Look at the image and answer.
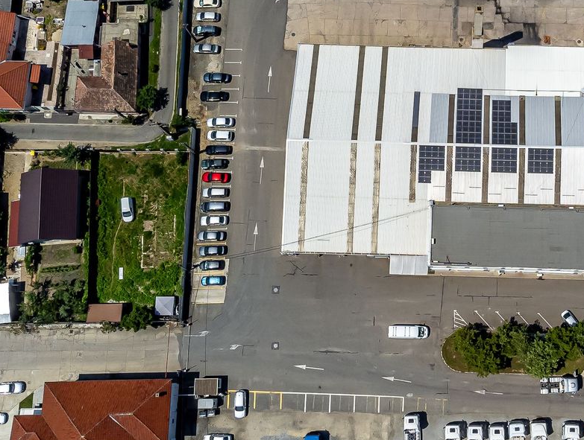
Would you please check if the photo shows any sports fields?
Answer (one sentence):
No, there appears to be no sports field in this shot.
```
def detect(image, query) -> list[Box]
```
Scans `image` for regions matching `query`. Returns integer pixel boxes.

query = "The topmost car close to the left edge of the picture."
[0,380,26,395]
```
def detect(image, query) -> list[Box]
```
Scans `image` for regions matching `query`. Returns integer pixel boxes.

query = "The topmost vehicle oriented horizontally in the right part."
[392,323,425,339]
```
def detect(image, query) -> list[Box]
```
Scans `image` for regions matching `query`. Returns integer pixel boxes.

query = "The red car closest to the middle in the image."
[204,171,231,184]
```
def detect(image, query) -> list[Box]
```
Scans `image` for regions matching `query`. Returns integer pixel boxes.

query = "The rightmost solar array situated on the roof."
[527,149,553,173]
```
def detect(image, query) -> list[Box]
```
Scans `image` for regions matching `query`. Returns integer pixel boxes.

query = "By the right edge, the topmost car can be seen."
[559,307,579,328]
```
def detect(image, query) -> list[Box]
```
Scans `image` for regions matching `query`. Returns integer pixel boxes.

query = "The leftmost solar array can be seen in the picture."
[418,146,445,183]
